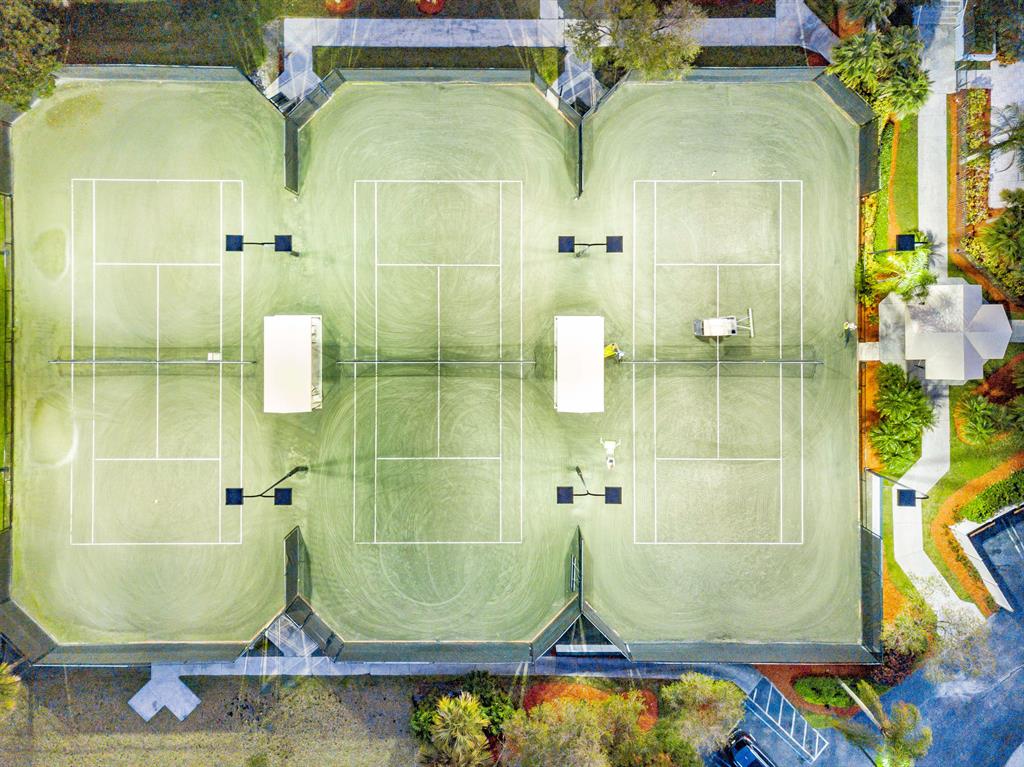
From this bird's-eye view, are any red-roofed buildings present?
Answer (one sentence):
No, there isn't any red-roofed building down there.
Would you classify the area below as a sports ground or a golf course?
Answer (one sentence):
This image shows a sports ground.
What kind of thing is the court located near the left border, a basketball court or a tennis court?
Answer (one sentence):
It looks like the court located near the left border is a tennis court.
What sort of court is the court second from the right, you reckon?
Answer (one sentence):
I'd identify the court second from the right as a tennis court.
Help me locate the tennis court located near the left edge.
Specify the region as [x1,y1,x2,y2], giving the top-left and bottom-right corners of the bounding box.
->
[9,81,302,644]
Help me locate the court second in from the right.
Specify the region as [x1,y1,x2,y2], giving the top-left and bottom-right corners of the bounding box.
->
[302,84,580,642]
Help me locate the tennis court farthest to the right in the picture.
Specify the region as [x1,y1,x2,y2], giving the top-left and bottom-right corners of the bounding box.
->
[580,82,862,643]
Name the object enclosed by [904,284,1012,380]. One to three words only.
building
